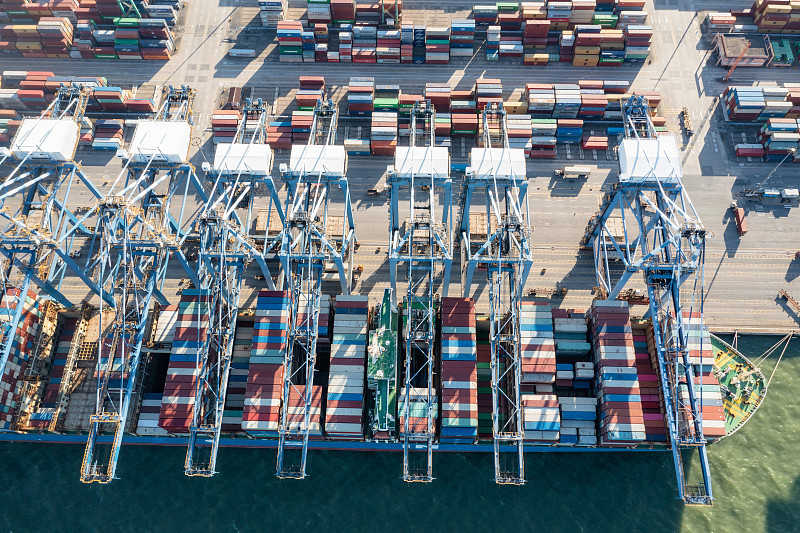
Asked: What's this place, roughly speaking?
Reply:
port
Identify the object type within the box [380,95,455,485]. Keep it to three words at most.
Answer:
container crane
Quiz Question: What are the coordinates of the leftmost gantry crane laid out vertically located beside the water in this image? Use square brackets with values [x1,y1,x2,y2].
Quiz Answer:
[0,78,136,403]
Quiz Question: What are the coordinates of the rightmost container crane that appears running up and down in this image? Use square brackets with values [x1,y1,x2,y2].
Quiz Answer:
[578,103,720,505]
